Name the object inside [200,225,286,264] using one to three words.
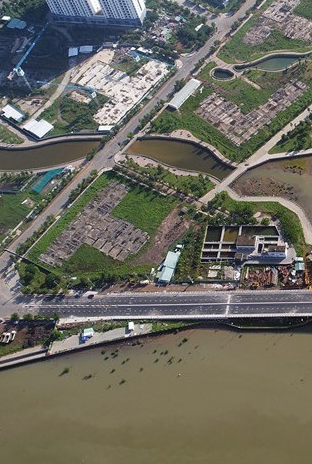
building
